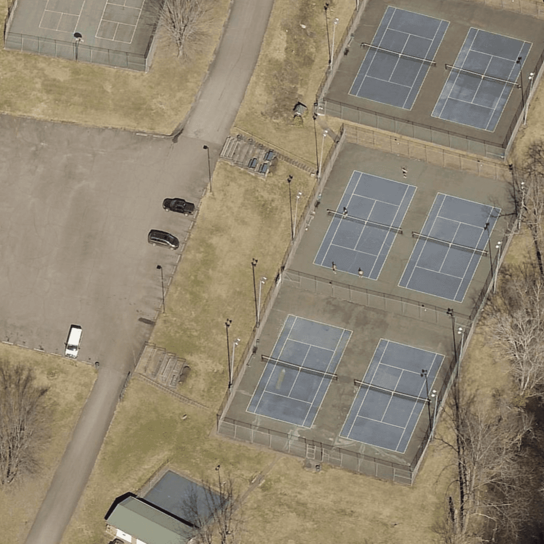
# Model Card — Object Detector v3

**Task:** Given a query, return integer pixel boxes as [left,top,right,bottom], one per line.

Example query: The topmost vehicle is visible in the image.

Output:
[160,200,196,217]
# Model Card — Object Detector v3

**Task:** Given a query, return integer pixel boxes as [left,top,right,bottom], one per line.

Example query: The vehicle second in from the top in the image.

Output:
[148,232,180,251]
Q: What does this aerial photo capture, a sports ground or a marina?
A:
sports ground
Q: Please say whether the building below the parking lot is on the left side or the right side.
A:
left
